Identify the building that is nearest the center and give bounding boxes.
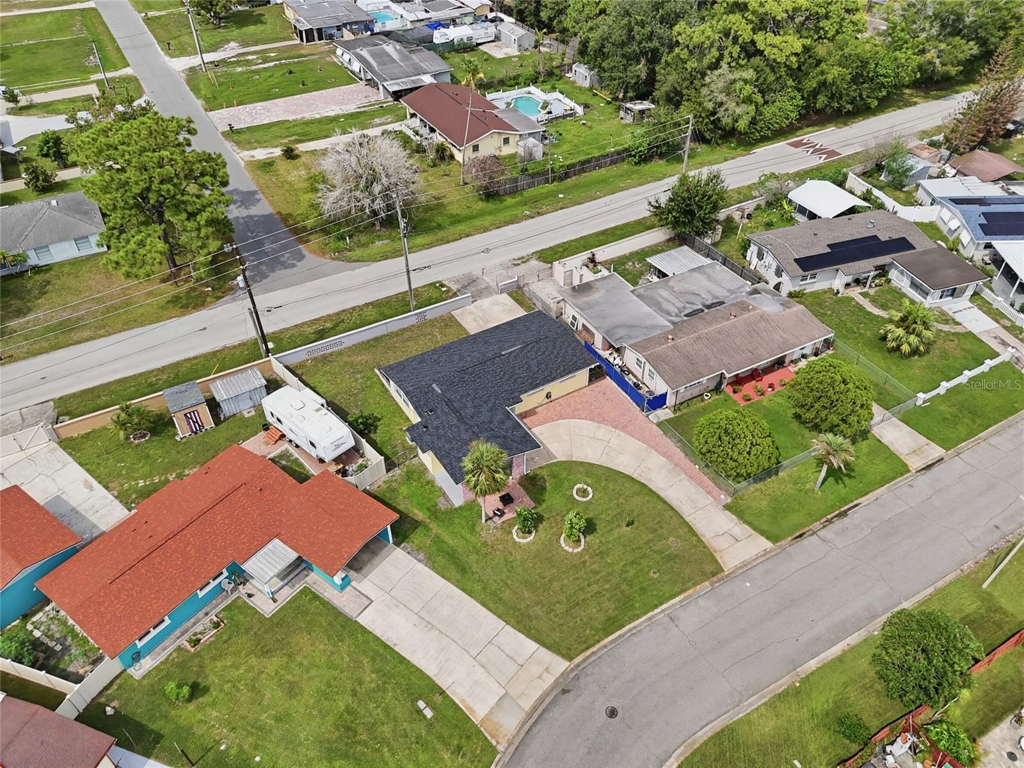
[379,311,600,502]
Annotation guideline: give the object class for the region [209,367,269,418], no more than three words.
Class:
shed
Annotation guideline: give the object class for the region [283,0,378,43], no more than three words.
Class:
house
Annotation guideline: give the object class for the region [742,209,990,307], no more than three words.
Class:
house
